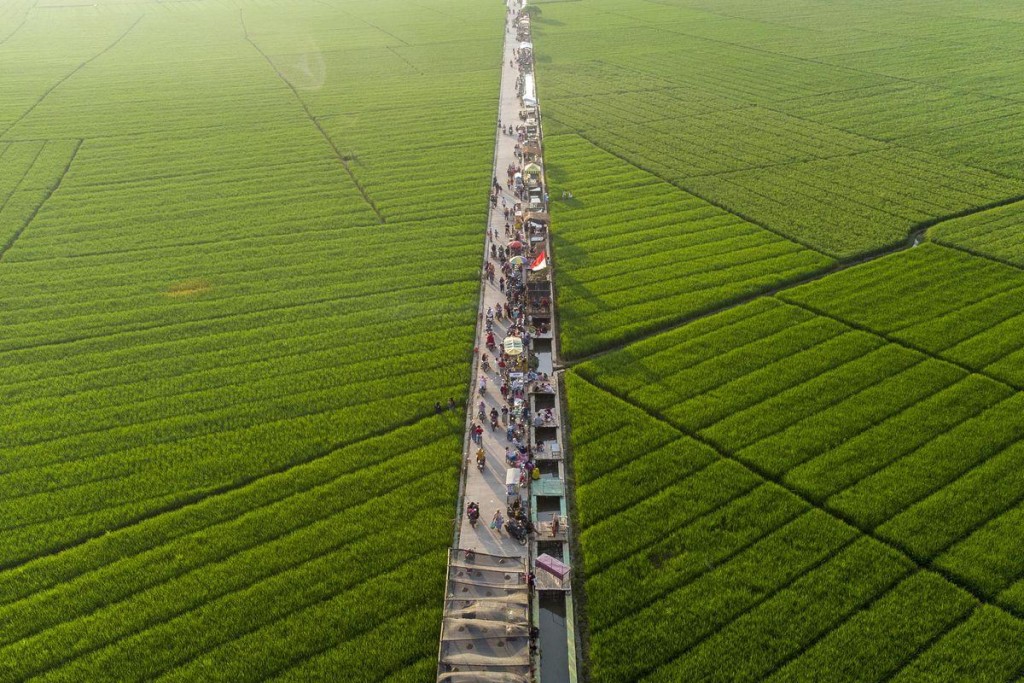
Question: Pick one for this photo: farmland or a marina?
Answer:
farmland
